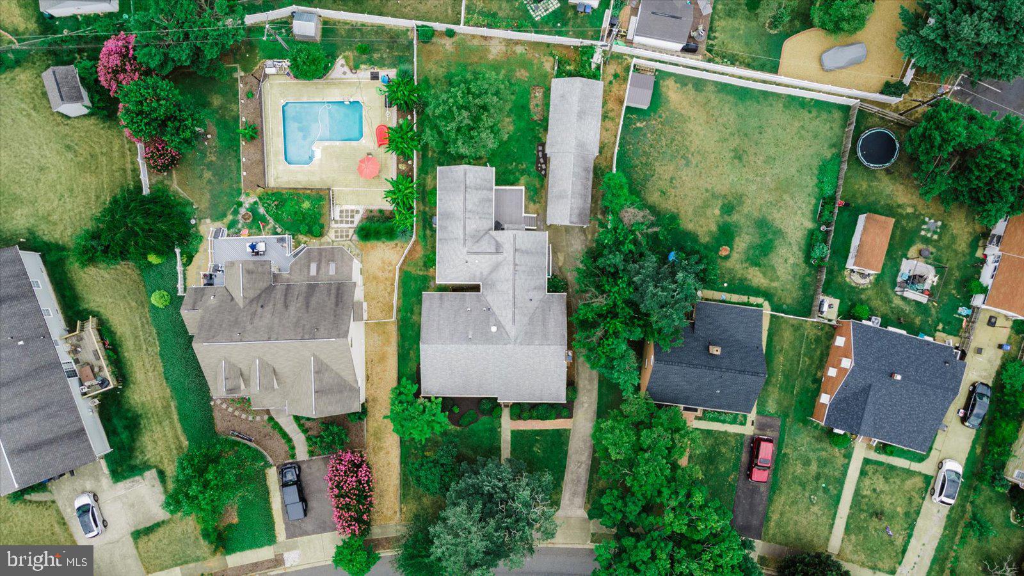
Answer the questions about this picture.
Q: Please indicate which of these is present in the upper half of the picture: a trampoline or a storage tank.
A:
trampoline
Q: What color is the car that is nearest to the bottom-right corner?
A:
white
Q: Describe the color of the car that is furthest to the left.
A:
white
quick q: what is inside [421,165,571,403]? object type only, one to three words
house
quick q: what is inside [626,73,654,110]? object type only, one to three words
shed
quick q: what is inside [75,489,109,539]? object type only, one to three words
car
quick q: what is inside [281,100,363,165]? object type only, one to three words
swimming pool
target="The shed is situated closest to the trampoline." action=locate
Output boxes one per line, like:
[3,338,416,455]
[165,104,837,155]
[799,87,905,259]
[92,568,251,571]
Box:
[842,213,894,273]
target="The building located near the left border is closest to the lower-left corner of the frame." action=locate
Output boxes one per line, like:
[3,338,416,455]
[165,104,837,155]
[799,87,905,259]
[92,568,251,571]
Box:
[0,246,110,497]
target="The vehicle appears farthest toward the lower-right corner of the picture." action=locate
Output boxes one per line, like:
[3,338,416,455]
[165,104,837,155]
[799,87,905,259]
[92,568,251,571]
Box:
[925,456,961,507]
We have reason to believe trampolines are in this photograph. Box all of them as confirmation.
[853,127,898,169]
